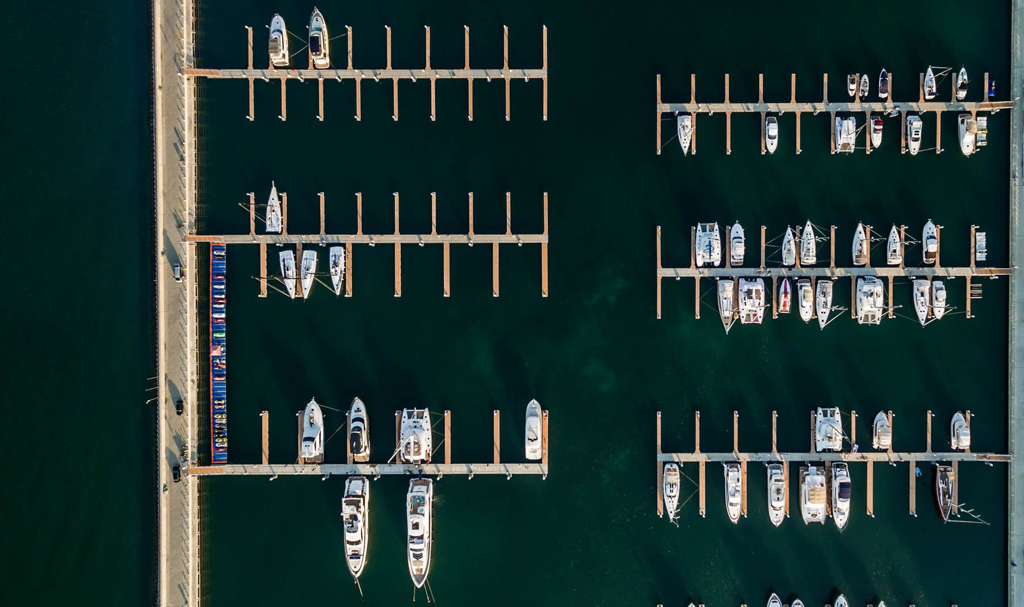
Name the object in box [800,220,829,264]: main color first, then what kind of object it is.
white boat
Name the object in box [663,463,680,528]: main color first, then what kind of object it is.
white boat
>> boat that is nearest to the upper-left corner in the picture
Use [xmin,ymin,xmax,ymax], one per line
[268,13,291,68]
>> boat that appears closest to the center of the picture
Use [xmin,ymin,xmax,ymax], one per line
[526,397,542,459]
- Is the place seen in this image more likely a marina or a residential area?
marina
